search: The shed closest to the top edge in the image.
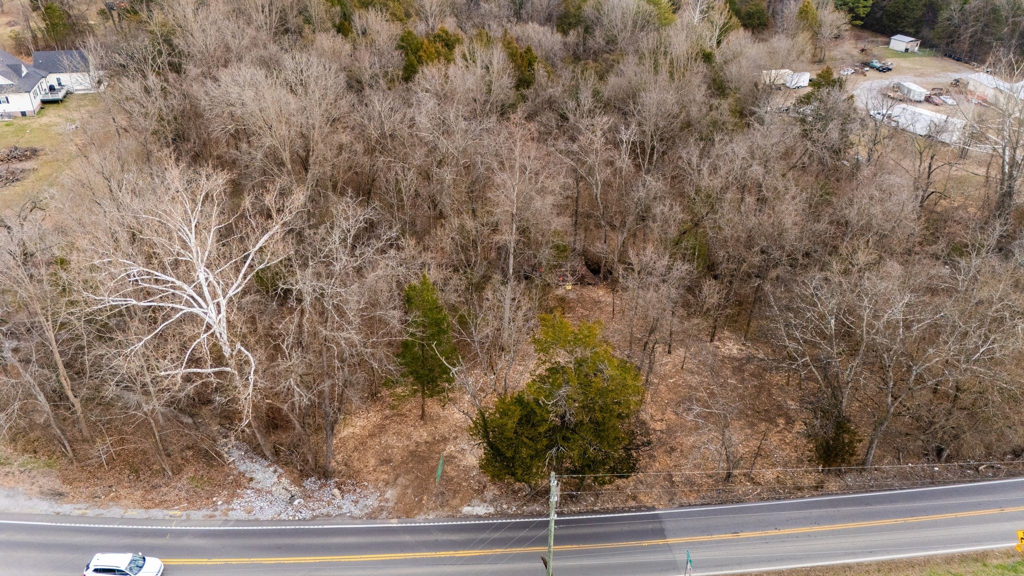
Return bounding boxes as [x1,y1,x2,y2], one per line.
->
[889,30,930,53]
